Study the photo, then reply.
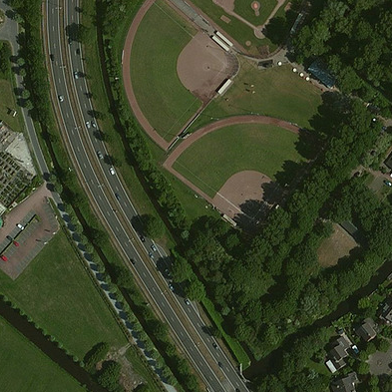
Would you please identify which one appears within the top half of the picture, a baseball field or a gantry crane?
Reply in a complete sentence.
The one visible within the top half of the picture is a baseball field.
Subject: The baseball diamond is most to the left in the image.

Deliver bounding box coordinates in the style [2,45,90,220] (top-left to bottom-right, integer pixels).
[123,0,238,150]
